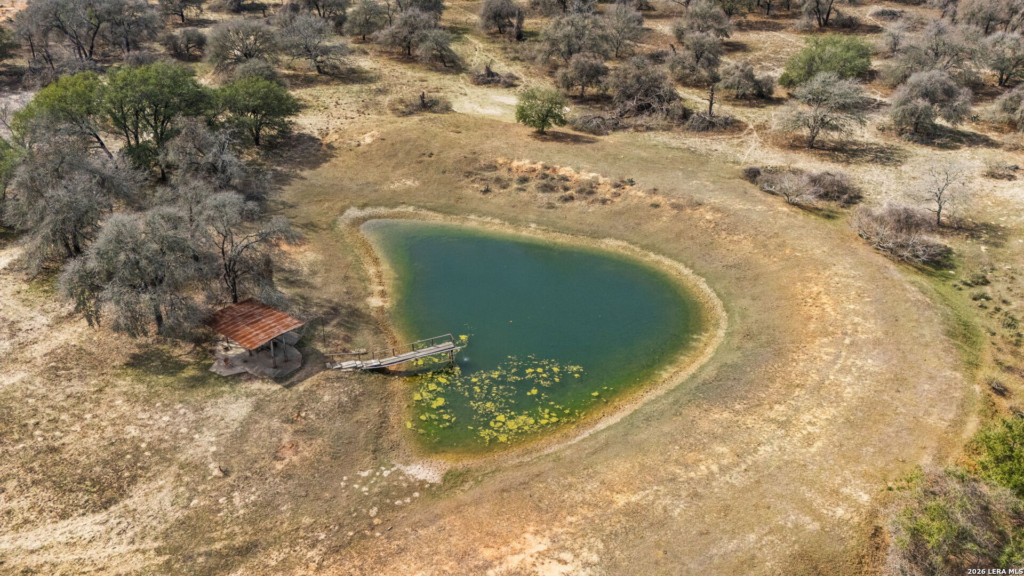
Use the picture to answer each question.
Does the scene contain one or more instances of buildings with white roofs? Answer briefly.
No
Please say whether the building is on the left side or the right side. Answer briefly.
left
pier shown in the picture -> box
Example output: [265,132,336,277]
[324,333,461,372]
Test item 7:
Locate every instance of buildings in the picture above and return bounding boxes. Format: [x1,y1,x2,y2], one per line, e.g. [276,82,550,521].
[205,297,305,368]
